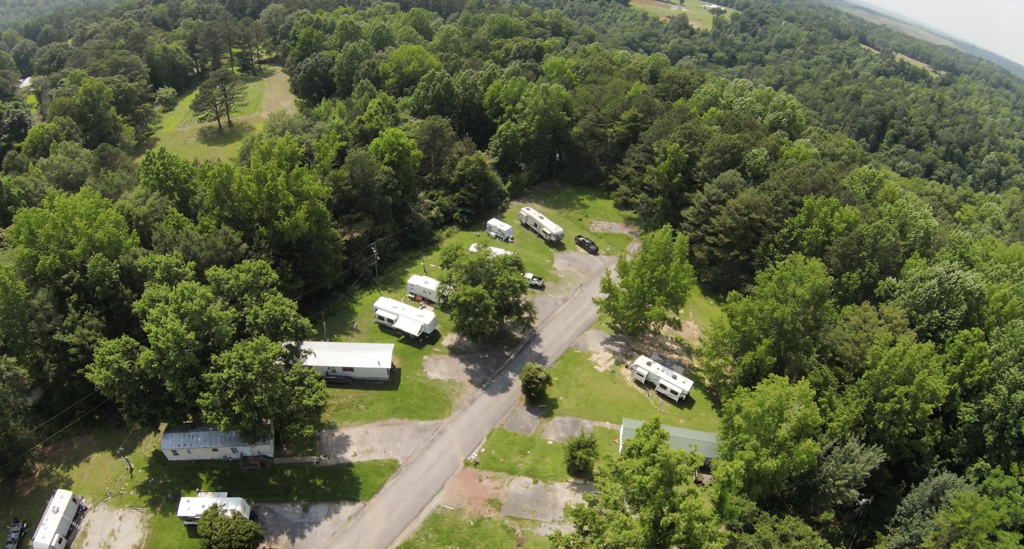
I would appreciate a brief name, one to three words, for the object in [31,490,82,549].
trailer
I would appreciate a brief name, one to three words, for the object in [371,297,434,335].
trailer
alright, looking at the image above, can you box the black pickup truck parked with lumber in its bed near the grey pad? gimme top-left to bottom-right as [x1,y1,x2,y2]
[574,235,598,255]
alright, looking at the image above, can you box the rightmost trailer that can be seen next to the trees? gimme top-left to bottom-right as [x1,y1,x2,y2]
[624,354,694,408]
